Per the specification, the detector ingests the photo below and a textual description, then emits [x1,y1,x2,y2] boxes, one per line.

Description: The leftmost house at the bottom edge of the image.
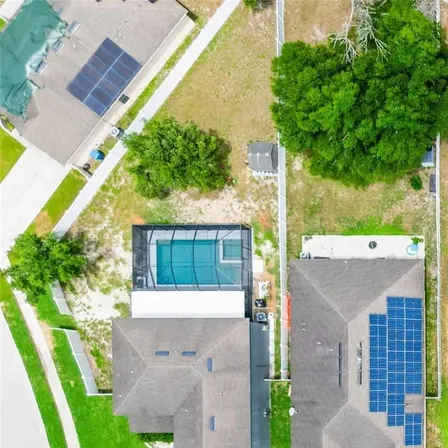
[112,290,269,448]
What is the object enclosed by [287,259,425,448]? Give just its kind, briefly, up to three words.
house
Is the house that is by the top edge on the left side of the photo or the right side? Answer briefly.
left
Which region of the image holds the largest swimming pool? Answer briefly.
center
